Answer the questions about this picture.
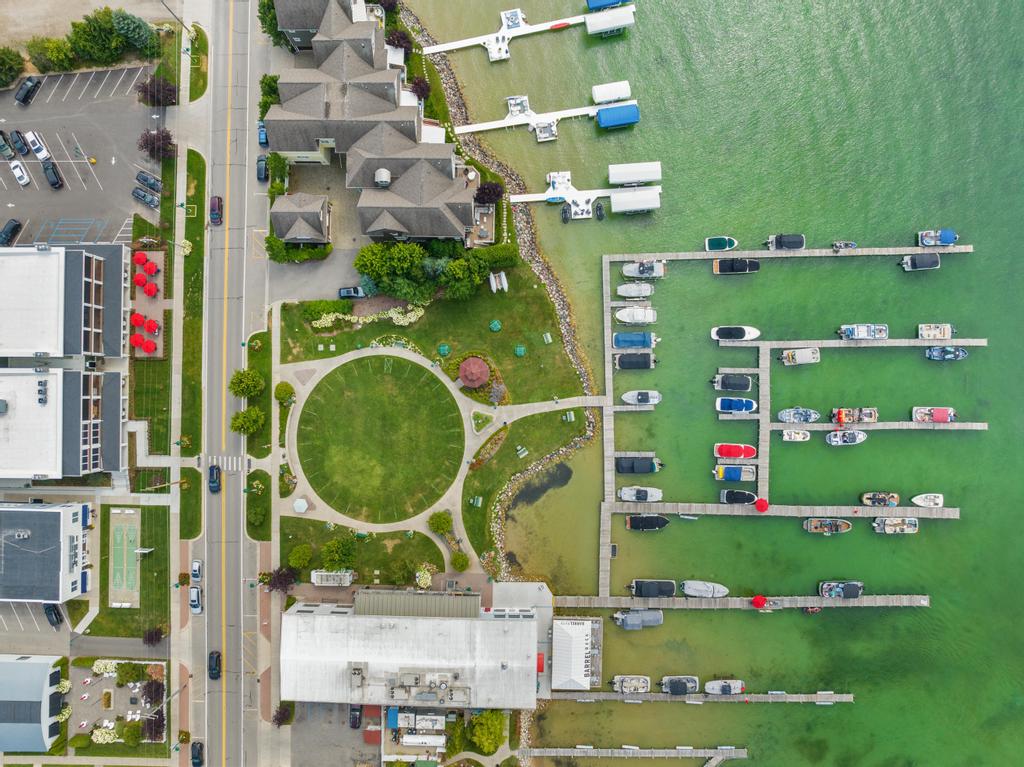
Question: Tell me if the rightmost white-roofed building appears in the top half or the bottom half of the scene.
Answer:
bottom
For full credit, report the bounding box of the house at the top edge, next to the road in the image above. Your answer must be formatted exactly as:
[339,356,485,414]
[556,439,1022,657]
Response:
[262,0,495,245]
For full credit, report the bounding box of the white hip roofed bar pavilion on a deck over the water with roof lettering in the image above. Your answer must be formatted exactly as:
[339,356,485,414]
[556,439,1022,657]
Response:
[551,616,604,693]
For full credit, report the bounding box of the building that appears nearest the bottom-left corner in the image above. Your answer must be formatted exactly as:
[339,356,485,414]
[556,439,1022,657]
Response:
[0,651,67,753]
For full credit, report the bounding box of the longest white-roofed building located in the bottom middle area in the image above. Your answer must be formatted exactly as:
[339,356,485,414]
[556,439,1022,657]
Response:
[278,586,537,708]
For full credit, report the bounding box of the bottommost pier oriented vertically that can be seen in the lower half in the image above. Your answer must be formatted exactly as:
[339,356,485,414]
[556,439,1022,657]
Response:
[597,511,613,598]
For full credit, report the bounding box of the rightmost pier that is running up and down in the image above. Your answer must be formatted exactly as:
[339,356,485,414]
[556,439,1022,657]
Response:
[755,346,772,507]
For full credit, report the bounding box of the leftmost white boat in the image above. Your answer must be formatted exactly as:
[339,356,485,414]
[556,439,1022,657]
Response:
[491,271,507,292]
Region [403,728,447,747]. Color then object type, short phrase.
white trailer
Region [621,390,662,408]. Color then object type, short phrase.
white boat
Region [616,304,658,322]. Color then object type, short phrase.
white boat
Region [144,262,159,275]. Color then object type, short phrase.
red umbrella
